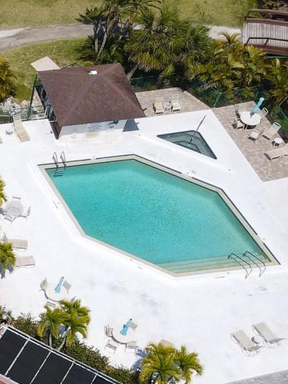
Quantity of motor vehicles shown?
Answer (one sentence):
The count of motor vehicles is 0.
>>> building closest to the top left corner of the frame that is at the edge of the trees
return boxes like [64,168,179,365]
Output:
[34,65,142,146]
